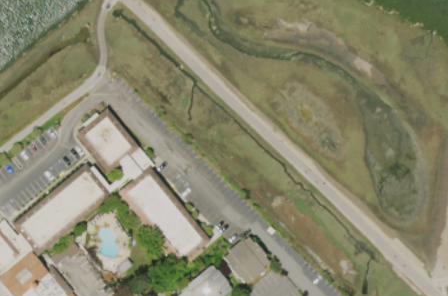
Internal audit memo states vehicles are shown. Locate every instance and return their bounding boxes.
[312,276,322,286]
[44,171,54,182]
[48,130,56,139]
[62,156,72,166]
[75,146,84,156]
[20,152,29,161]
[180,188,192,198]
[38,136,48,146]
[158,160,167,169]
[228,235,238,244]
[70,150,79,160]
[220,224,230,232]
[4,166,14,174]
[215,219,224,228]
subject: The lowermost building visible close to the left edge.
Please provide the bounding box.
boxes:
[0,254,74,296]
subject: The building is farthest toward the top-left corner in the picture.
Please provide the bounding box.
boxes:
[78,108,140,174]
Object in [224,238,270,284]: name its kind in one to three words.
house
